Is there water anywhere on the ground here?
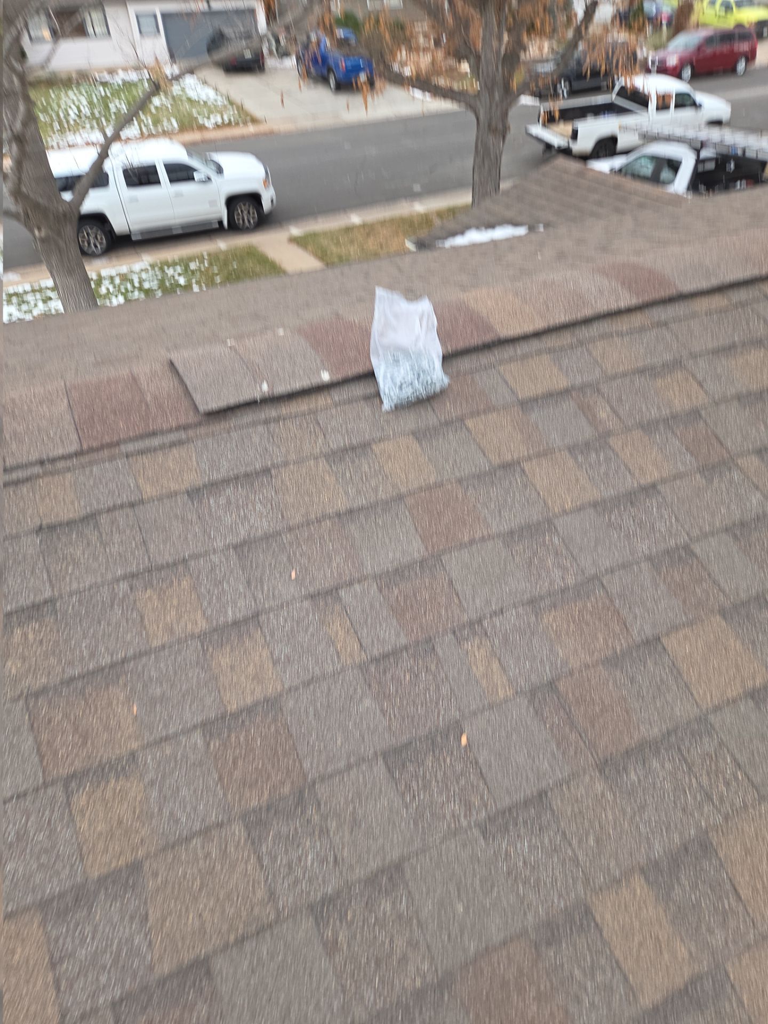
No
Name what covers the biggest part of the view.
buildings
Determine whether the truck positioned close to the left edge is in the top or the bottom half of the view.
top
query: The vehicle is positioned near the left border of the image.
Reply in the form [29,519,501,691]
[17,137,274,257]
